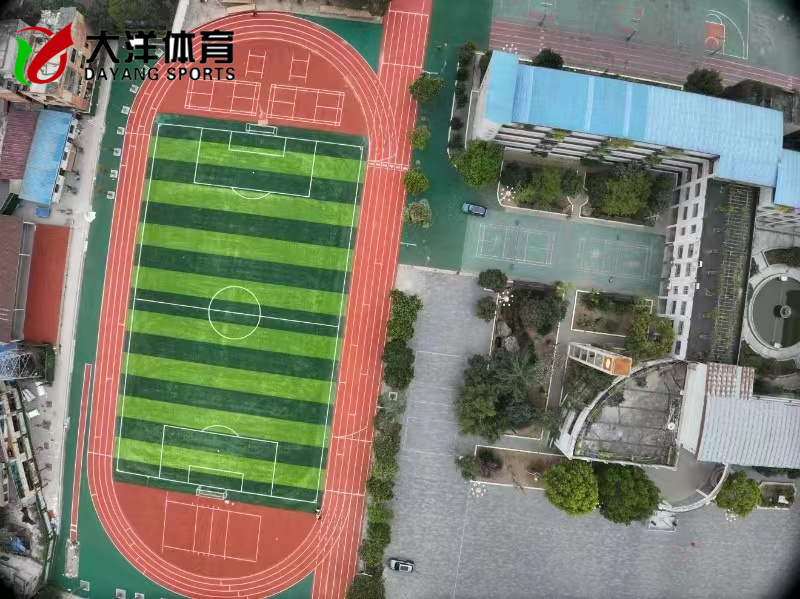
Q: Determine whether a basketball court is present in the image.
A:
Yes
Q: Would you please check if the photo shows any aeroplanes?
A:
No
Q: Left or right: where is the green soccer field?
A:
left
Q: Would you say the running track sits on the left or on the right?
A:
left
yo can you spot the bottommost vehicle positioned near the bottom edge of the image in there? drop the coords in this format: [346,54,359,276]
[388,558,415,574]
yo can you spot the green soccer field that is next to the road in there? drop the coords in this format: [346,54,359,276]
[114,112,366,513]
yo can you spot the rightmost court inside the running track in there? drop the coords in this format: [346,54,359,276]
[267,84,344,126]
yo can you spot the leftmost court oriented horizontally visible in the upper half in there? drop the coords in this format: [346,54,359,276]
[185,76,260,117]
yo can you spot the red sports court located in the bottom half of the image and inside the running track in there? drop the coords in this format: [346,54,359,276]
[161,495,262,562]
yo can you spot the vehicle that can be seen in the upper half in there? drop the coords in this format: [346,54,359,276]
[462,201,488,216]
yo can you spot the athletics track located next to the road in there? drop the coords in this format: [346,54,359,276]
[87,0,433,599]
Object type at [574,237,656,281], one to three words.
sports court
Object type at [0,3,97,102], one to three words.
building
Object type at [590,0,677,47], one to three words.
basketball court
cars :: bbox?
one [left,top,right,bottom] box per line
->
[388,558,415,574]
[462,201,488,216]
